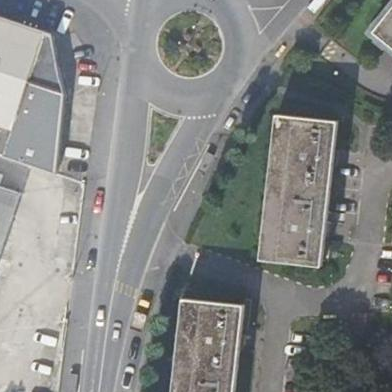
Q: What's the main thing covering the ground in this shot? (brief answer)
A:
paved ground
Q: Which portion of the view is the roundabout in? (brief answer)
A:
top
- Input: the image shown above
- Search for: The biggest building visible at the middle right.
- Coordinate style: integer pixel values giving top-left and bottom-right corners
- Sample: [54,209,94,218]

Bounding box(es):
[258,111,341,266]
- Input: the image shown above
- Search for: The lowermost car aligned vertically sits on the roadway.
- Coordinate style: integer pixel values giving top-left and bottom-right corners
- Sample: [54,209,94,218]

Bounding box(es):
[123,365,135,388]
